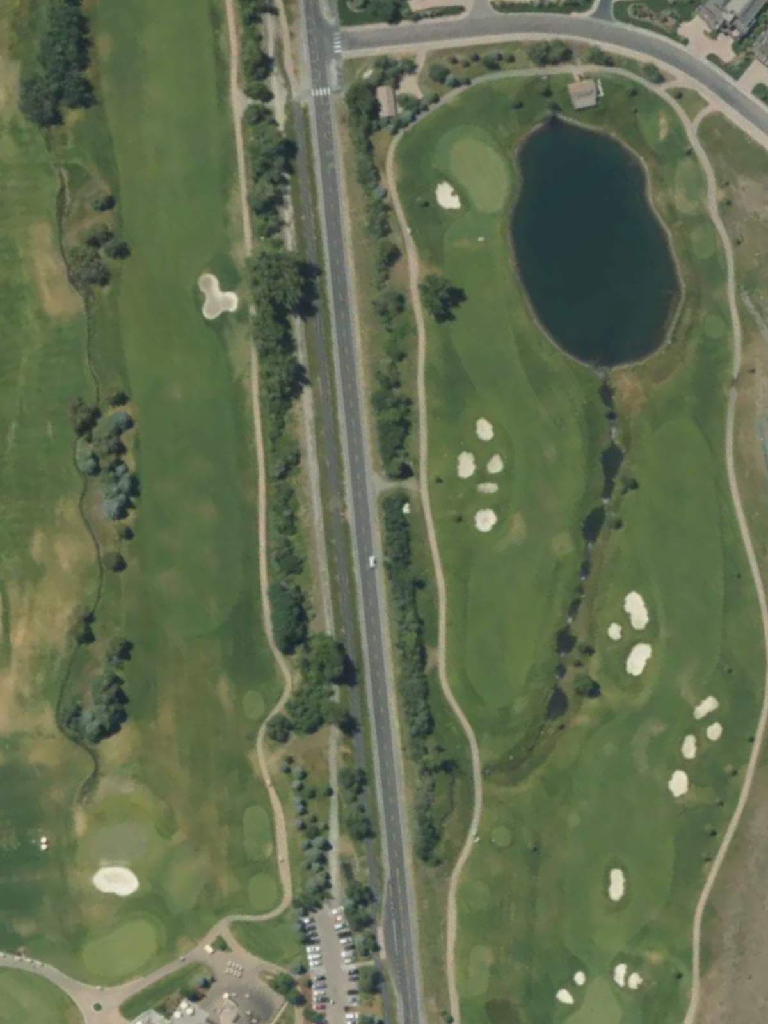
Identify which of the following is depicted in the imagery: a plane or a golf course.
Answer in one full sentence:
The one in the frame is a golf course.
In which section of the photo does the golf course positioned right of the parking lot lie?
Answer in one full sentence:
The golf course positioned right of the parking lot is in the right part of the image.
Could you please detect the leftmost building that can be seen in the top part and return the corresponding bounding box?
[376,85,396,117]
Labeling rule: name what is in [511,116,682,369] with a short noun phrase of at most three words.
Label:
pond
